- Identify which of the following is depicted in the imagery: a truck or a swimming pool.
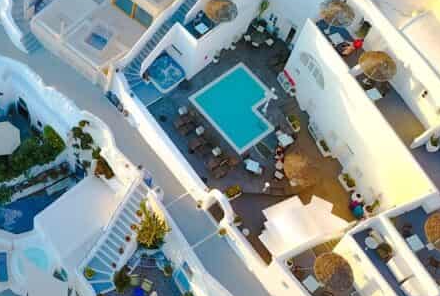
swimming pool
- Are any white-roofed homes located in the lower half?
Yes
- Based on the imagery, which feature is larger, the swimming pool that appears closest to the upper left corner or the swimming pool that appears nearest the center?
the swimming pool that appears nearest the center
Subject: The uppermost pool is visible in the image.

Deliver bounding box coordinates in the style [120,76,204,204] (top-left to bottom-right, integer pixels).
[84,26,117,52]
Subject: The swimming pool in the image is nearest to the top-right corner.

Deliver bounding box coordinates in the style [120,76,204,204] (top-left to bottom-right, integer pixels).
[190,63,274,155]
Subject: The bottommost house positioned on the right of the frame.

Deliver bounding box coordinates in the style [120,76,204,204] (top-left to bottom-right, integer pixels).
[248,195,346,270]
